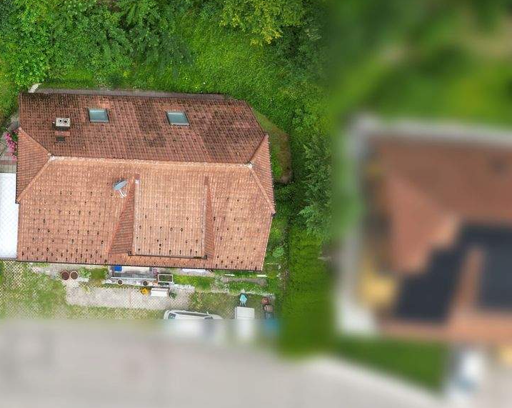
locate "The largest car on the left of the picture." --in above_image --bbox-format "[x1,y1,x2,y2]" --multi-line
[163,310,226,347]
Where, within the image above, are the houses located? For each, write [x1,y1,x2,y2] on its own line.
[357,133,512,350]
[13,90,277,272]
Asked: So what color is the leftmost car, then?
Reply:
white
